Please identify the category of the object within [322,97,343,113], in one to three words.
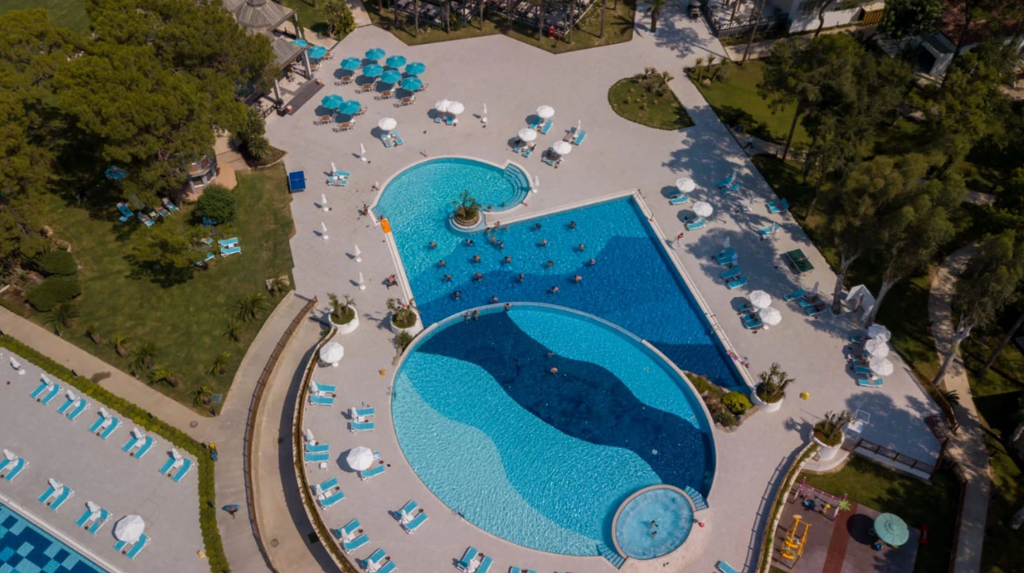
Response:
umbrella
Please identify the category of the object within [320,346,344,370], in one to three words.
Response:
umbrella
